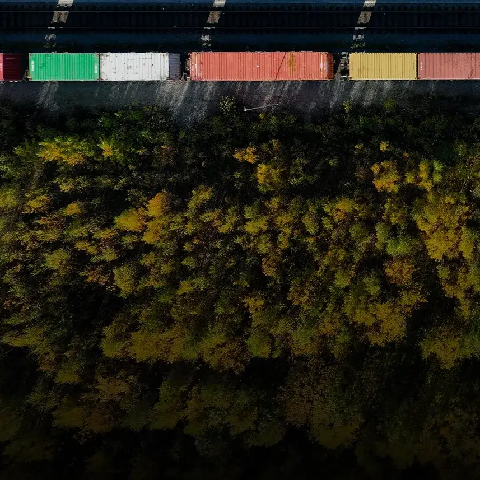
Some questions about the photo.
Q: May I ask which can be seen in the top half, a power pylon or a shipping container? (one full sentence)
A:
What appears in the top half is a shipping container.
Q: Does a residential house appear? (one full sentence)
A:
No, there's no residential house here.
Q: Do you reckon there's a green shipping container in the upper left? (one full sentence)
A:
Yes, there is a green shipping container in the upper left.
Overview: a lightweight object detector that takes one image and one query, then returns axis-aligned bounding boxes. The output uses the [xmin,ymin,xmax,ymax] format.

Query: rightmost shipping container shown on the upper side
[418,53,480,80]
